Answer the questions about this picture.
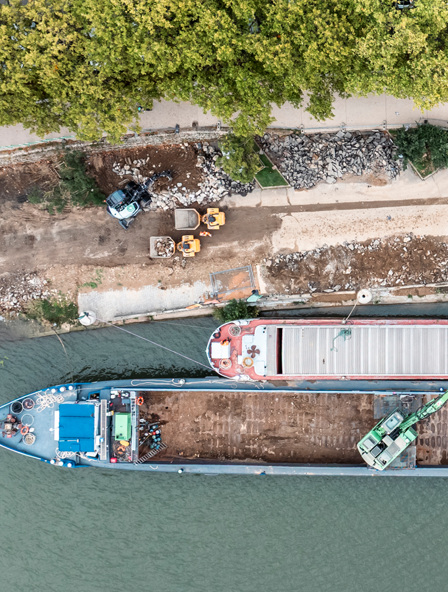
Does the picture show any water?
Yes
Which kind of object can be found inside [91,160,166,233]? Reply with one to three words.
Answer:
work vehicle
